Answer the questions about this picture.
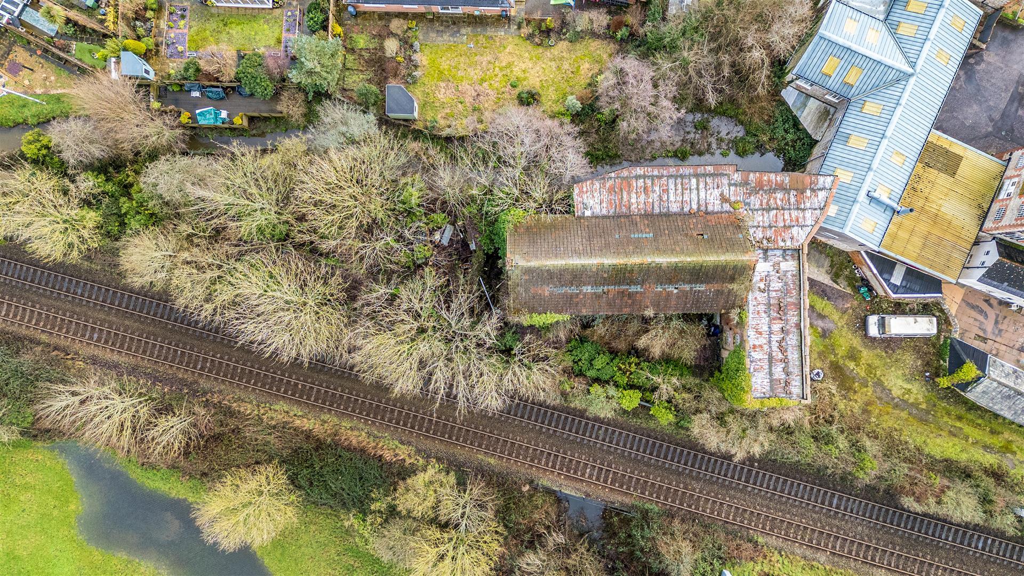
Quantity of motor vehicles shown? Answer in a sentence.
In total, there is 1 motor vehicle in the scene.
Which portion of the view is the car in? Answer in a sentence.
The car is located in the right region of the scene.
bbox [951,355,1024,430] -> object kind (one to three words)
shed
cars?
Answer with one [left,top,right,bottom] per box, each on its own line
[861,312,941,339]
